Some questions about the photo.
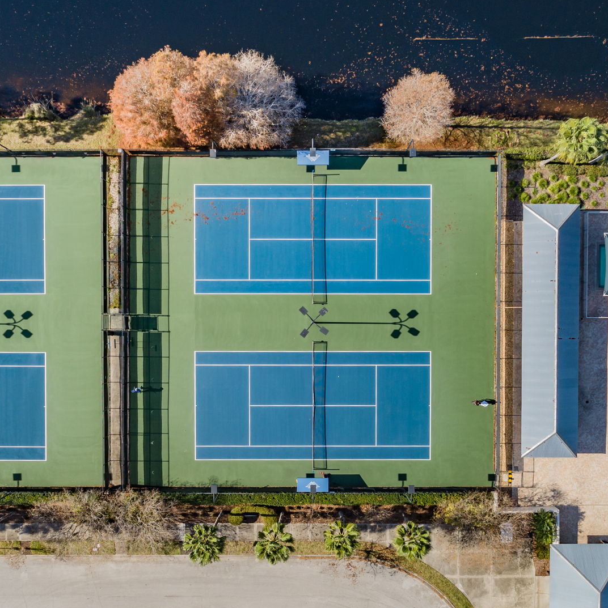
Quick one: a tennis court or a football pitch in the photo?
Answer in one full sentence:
The one in the frame is a tennis court.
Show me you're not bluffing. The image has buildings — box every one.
[522,203,581,458]
[549,543,608,608]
